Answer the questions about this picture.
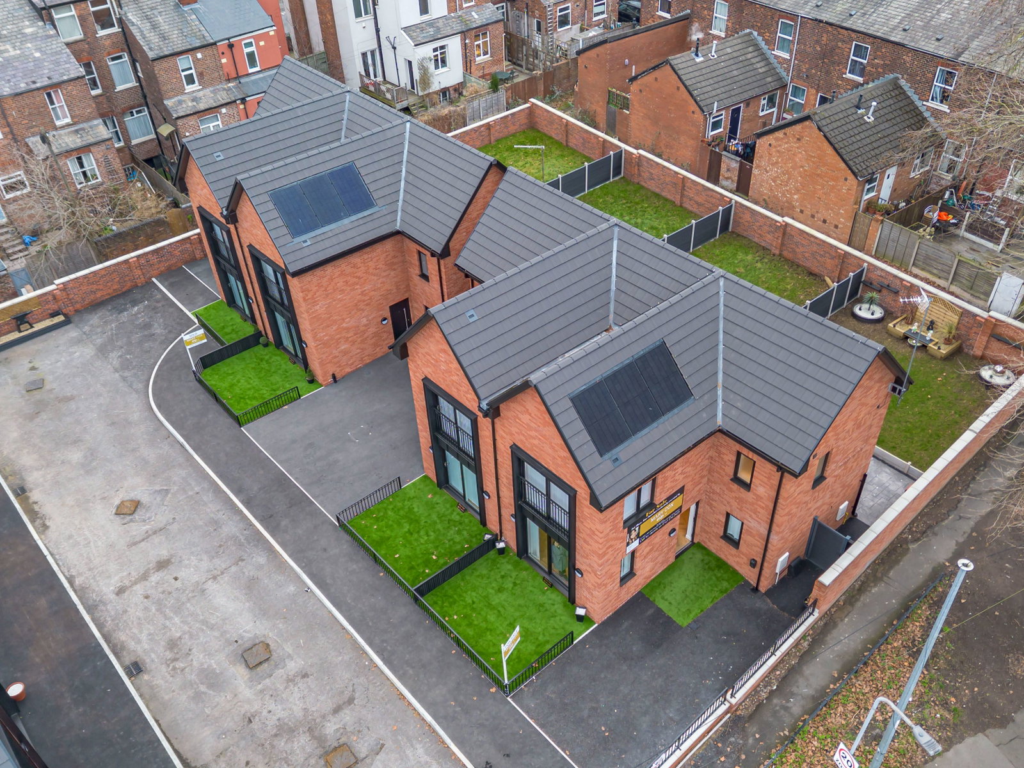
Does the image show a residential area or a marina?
residential area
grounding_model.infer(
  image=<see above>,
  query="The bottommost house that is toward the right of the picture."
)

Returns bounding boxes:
[387,165,915,622]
